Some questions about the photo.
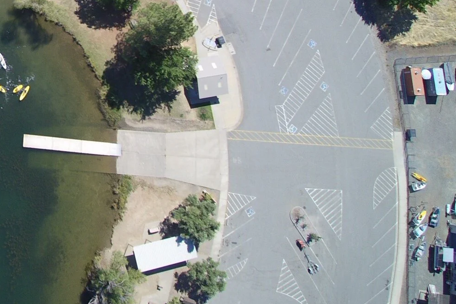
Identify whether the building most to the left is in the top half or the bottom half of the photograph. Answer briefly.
bottom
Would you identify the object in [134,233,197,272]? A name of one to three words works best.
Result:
building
